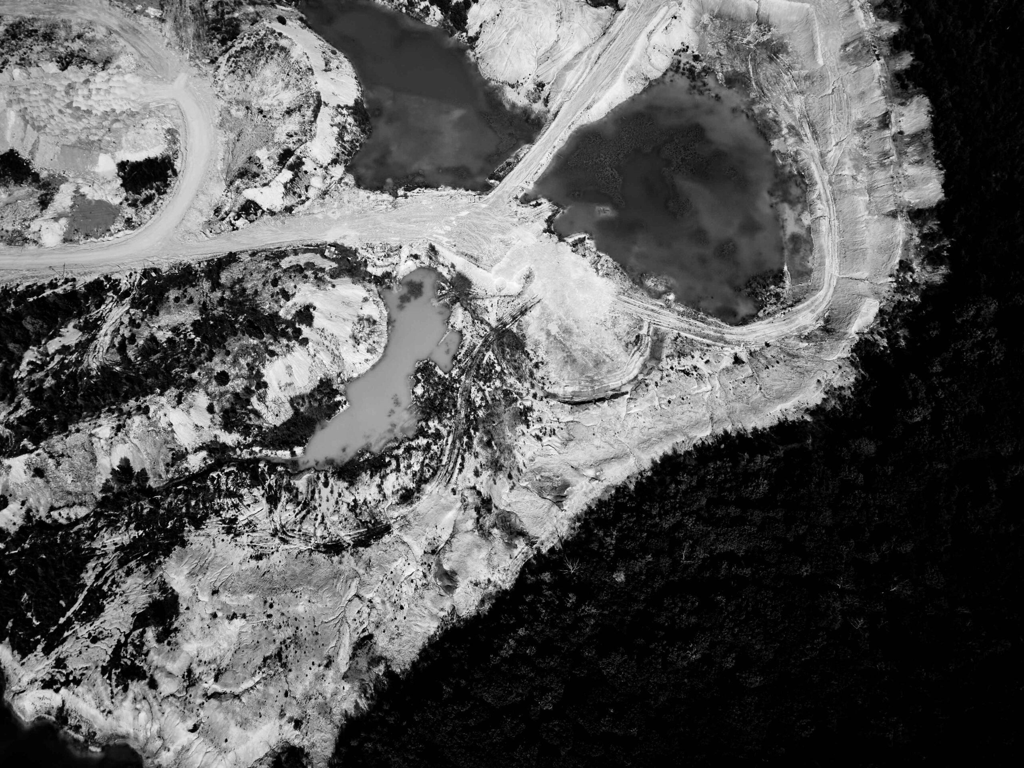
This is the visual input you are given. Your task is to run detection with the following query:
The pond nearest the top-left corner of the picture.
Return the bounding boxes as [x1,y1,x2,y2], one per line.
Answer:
[64,191,122,241]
